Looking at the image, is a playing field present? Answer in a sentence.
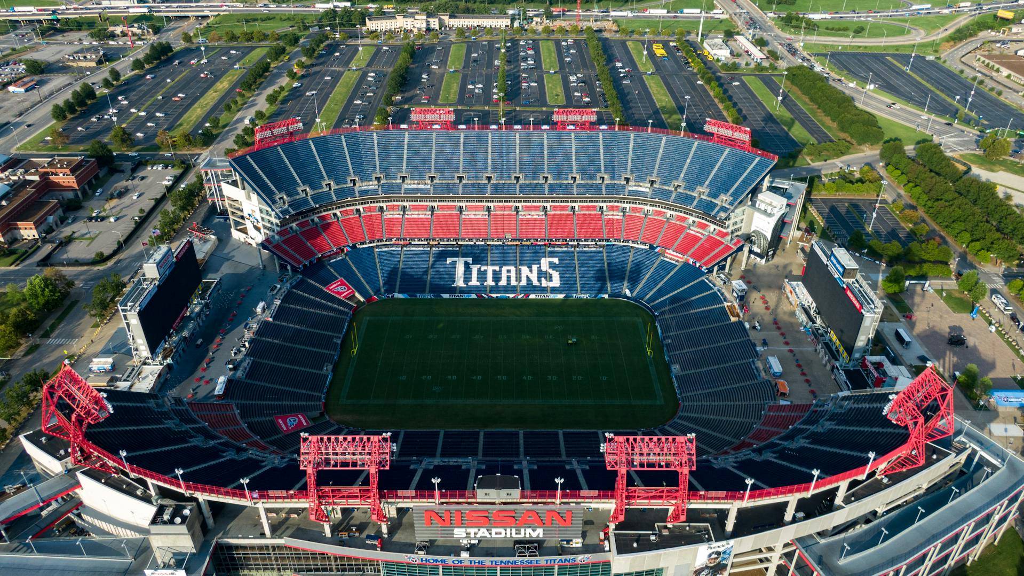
Yes, a playing field can be made out from above.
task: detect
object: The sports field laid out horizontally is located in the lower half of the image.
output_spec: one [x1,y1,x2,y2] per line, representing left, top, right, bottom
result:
[323,299,680,428]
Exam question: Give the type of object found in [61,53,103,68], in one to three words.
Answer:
building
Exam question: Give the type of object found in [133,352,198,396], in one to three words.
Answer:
building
